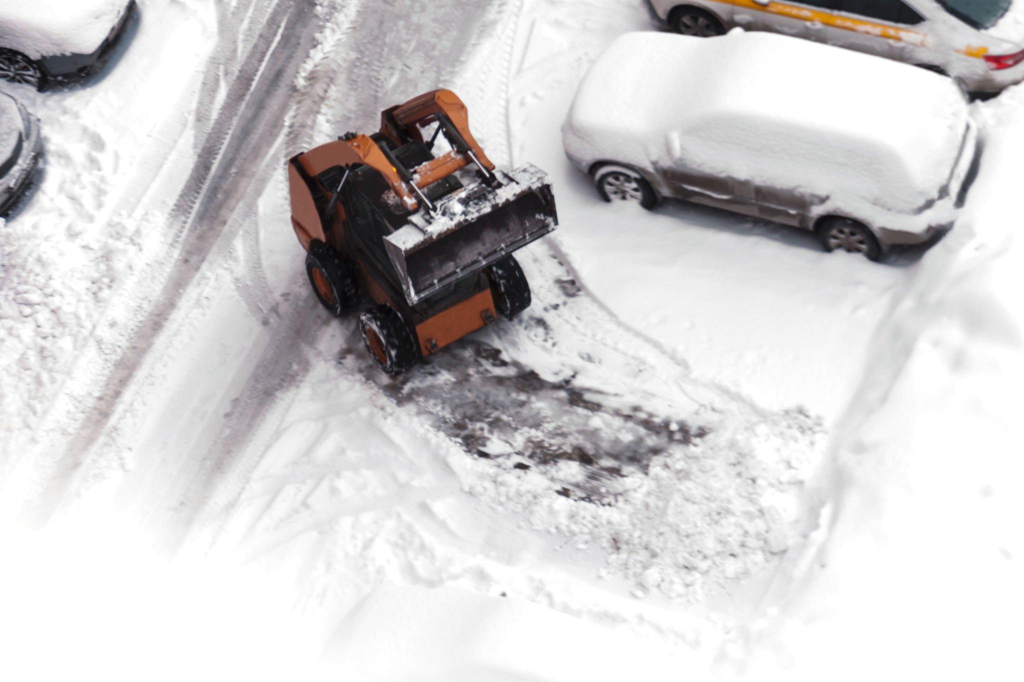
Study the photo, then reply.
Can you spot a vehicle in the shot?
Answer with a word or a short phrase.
Yes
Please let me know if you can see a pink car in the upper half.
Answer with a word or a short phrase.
No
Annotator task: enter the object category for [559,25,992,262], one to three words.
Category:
car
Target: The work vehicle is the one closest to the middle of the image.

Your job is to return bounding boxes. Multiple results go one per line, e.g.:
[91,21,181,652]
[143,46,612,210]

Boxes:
[288,91,562,374]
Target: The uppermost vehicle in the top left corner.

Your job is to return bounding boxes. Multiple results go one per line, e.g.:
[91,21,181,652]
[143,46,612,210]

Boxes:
[0,0,146,94]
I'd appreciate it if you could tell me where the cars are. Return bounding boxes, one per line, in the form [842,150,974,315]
[0,91,49,222]
[0,0,146,94]
[637,0,1024,95]
[559,25,992,262]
